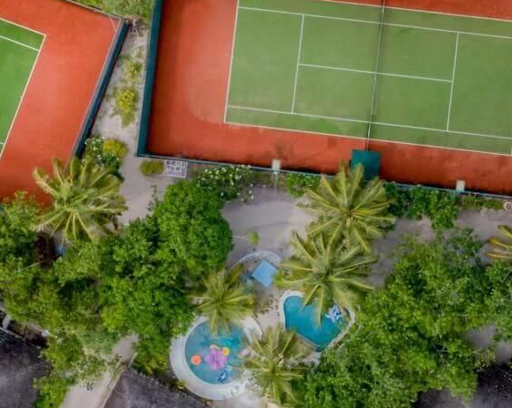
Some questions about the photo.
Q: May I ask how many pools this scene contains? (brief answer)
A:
2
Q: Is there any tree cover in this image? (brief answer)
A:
Yes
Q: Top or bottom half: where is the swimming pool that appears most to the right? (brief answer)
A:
bottom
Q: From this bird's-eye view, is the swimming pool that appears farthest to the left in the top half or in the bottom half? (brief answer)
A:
bottom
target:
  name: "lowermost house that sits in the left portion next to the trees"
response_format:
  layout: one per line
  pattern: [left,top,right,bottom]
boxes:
[106,367,207,408]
